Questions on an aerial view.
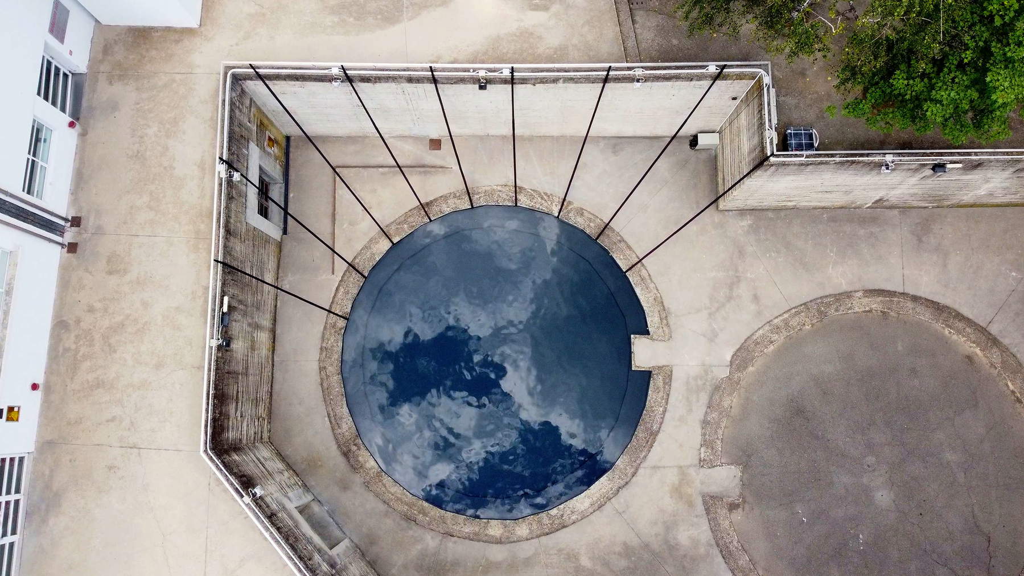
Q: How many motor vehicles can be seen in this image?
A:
0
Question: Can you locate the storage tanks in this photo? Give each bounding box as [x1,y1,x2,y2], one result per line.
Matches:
[776,122,821,152]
